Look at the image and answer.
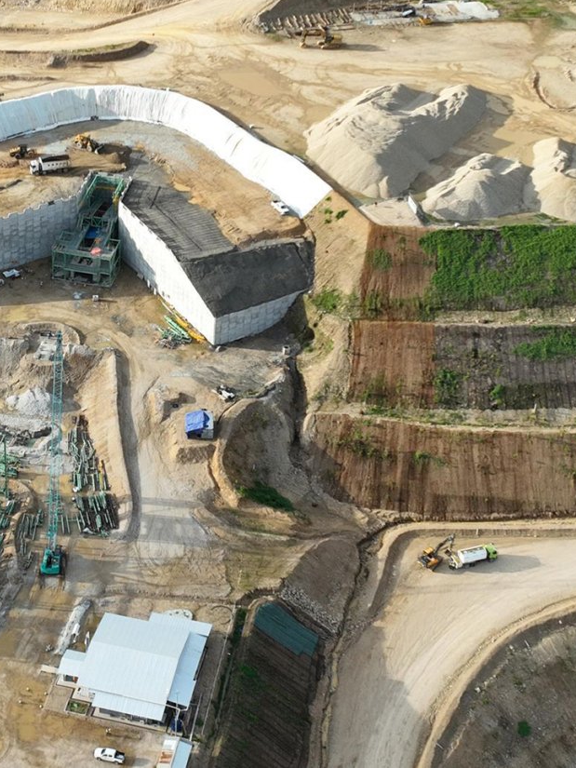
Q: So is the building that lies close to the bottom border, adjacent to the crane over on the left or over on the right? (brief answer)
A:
left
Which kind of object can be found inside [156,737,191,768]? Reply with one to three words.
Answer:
shed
